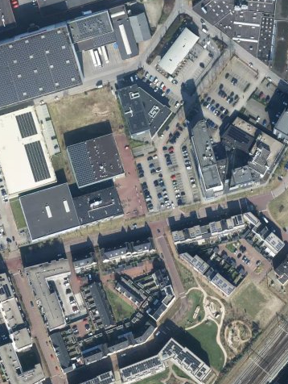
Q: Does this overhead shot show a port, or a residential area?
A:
residential area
